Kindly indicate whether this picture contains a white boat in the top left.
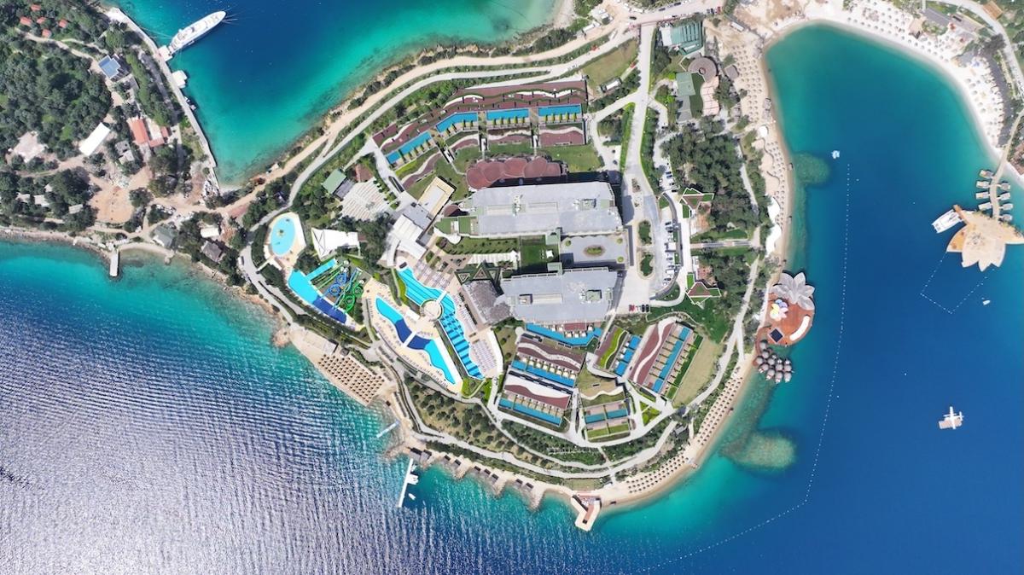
Yes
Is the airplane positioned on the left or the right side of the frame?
right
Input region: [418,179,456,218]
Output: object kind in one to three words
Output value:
building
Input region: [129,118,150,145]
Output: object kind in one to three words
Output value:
house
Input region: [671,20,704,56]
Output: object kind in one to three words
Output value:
greenhouse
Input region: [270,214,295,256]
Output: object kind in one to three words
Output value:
swimming pool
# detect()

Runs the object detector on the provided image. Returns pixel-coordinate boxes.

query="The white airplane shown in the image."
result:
[945,405,968,430]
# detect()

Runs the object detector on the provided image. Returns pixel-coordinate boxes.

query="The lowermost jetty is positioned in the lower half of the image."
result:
[572,491,601,530]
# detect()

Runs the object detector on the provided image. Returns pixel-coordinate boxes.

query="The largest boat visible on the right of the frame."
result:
[932,210,960,234]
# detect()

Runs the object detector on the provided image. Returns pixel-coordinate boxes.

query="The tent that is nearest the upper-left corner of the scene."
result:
[311,227,359,259]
